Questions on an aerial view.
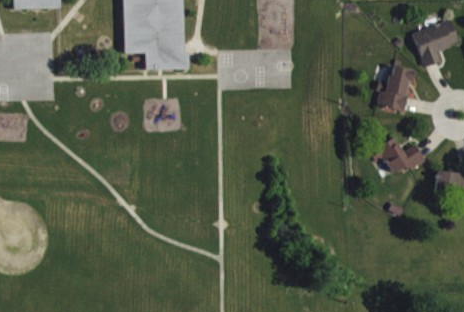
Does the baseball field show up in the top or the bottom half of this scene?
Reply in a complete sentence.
The baseball field sits in the bottom half of the picture.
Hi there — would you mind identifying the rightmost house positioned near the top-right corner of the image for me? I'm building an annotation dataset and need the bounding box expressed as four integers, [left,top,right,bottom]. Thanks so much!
[408,16,458,70]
